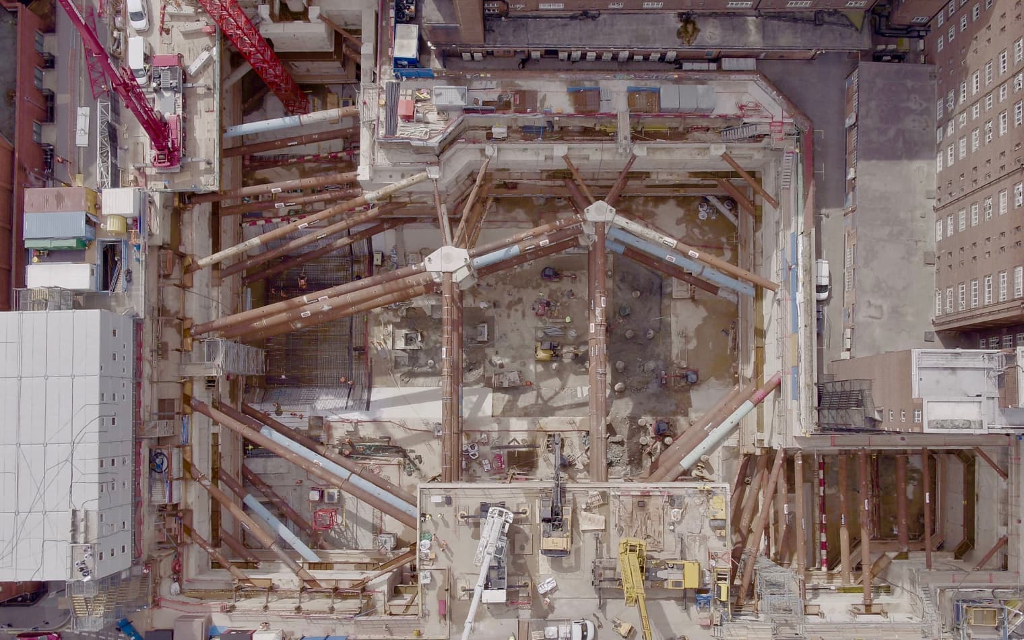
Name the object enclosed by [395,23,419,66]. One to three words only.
building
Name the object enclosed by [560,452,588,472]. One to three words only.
work vehicle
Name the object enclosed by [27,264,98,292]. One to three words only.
building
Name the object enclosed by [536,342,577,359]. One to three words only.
work vehicle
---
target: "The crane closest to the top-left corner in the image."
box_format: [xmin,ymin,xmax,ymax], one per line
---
[53,0,204,174]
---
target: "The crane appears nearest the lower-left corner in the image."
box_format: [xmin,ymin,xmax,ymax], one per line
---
[460,505,527,640]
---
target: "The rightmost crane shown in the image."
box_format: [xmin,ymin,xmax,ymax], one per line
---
[596,537,705,640]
